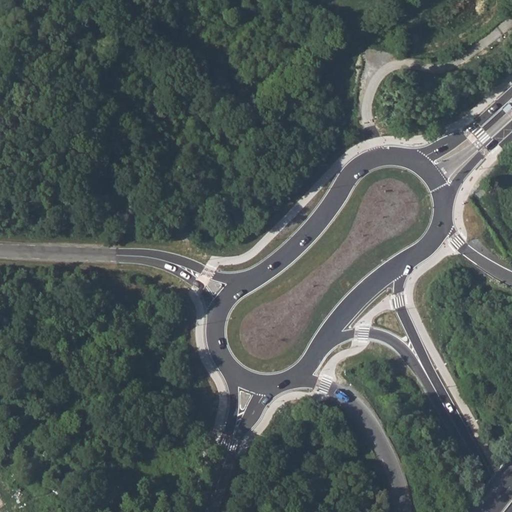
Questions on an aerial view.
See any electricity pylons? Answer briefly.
No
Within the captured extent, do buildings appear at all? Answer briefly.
No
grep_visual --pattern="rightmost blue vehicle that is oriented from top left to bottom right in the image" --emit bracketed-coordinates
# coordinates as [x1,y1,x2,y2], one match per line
[334,389,351,404]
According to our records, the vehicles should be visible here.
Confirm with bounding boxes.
[164,264,176,271]
[468,122,478,130]
[490,104,501,113]
[194,282,203,290]
[235,290,246,298]
[486,140,498,150]
[300,236,312,246]
[355,170,366,178]
[269,262,279,270]
[334,389,351,404]
[220,338,226,348]
[503,100,512,110]
[404,264,412,275]
[446,402,454,413]
[262,394,272,404]
[180,272,190,279]
[278,380,290,388]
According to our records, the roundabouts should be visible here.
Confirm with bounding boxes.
[116,82,512,463]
